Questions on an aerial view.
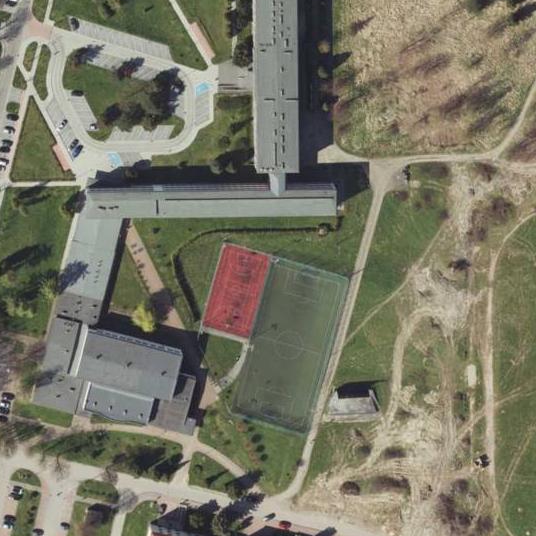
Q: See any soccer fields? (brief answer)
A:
Yes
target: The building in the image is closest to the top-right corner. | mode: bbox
[250,0,299,173]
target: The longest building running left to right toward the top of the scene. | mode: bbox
[81,181,336,218]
